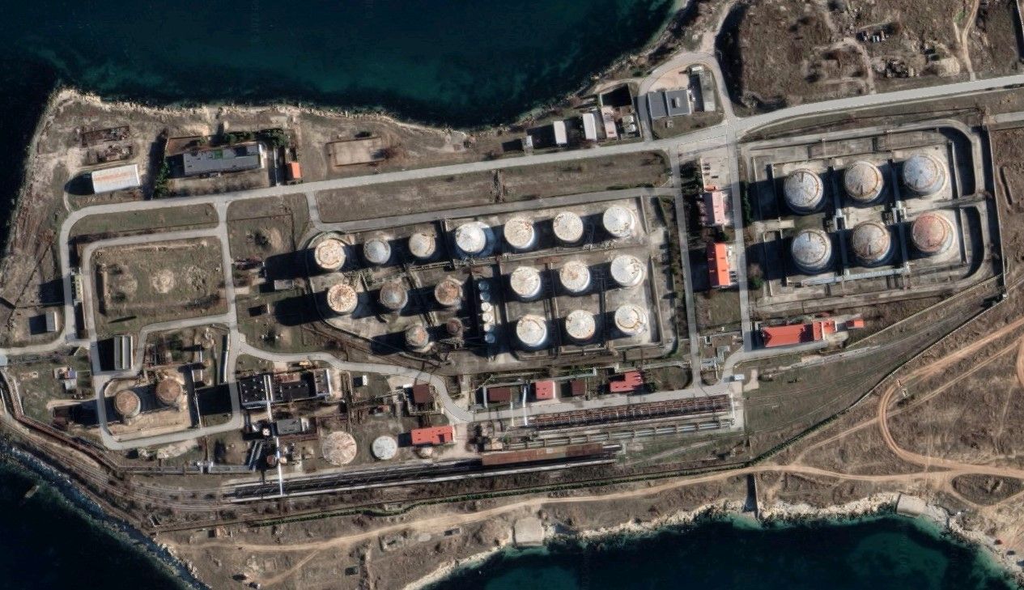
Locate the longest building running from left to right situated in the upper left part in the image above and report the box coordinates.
[184,143,261,177]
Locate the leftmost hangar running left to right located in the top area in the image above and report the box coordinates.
[91,165,142,194]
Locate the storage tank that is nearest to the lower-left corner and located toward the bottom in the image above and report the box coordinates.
[115,390,143,419]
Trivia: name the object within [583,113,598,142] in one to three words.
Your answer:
shed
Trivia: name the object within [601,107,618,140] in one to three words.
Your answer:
shed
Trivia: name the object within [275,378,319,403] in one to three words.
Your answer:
building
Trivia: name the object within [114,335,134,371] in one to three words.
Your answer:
building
